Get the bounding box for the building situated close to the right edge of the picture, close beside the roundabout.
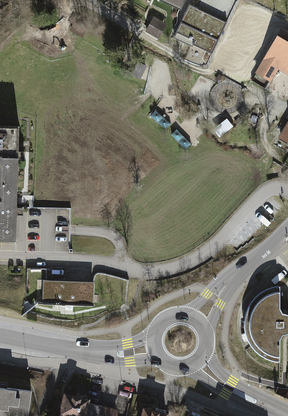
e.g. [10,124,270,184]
[243,286,288,364]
